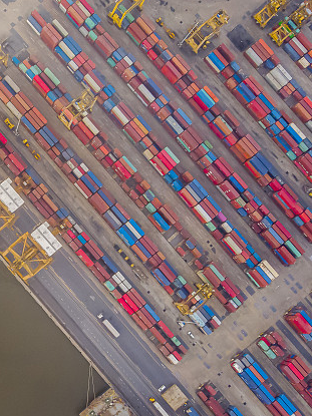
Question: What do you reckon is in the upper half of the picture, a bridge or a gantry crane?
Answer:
gantry crane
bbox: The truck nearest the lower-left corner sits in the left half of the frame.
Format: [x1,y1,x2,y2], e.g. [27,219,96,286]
[99,314,121,336]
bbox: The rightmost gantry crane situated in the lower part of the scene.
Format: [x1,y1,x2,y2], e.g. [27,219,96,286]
[166,278,211,315]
